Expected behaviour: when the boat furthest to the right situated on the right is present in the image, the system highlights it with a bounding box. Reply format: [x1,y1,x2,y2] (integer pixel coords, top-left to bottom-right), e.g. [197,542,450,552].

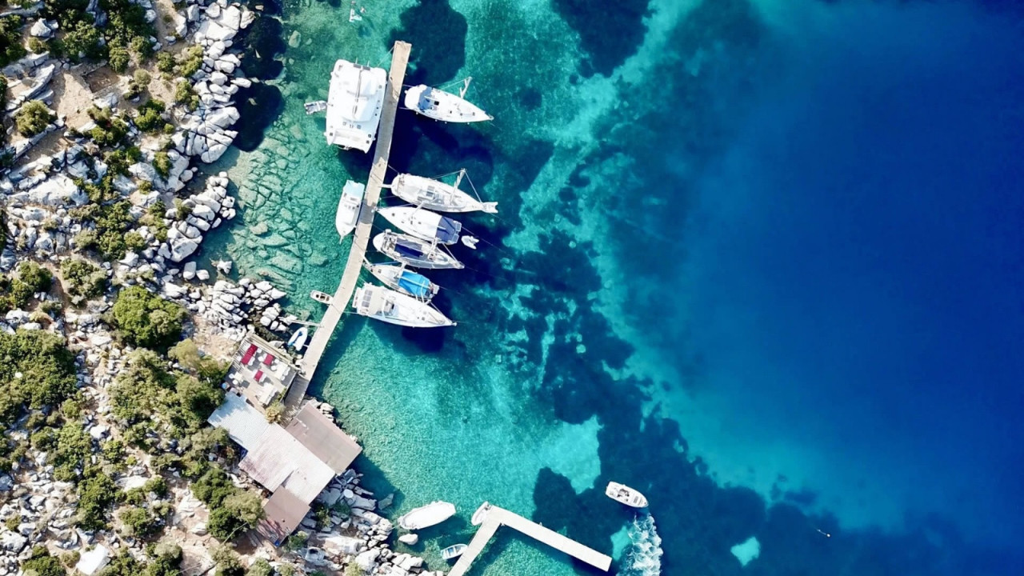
[604,483,646,508]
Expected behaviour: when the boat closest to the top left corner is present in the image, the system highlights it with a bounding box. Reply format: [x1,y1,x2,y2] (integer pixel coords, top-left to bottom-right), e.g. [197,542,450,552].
[304,100,327,113]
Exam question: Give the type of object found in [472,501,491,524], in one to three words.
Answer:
boat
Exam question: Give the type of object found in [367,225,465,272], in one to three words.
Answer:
boat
